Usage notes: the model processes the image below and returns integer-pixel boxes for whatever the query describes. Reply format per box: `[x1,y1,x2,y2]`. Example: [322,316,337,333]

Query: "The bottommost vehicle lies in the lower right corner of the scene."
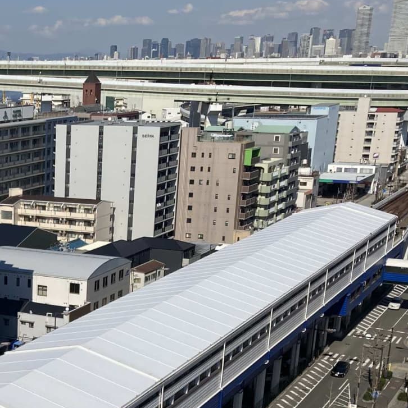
[327,359,347,374]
